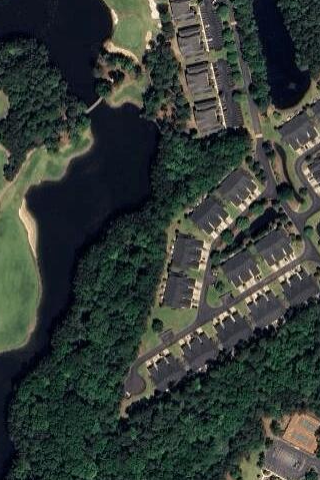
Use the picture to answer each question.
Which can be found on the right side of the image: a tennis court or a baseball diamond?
tennis court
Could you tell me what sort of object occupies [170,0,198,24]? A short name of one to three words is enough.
building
